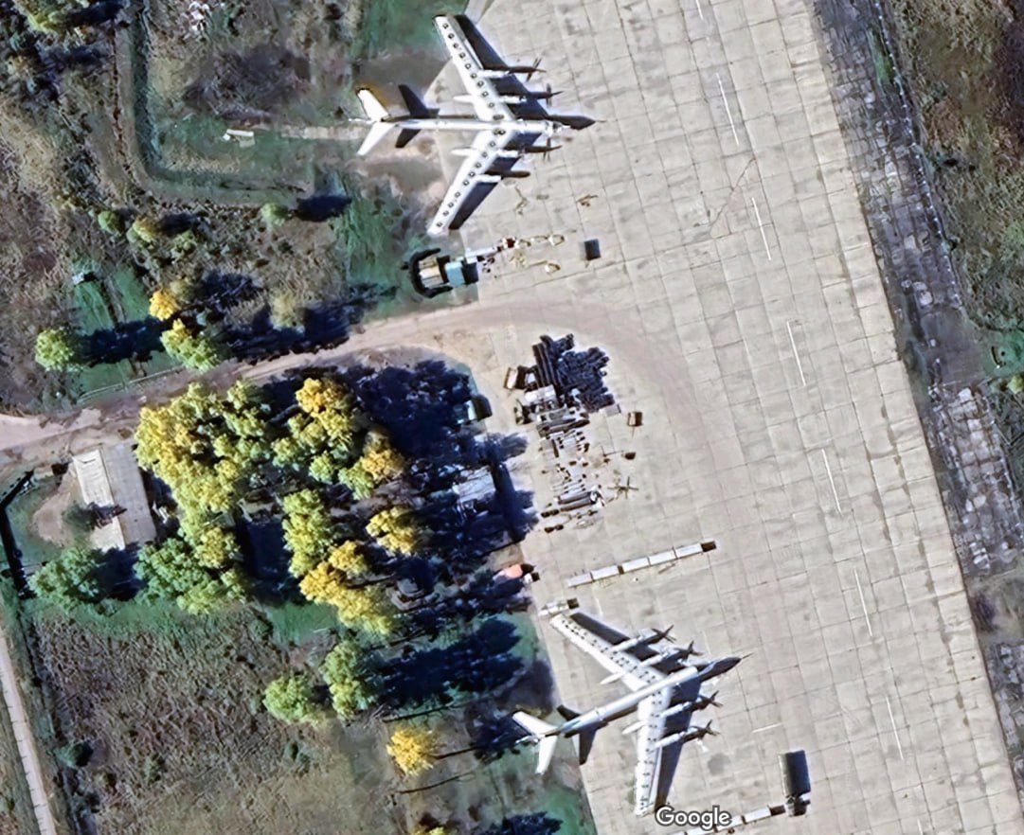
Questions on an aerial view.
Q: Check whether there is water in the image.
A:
No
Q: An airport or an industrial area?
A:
airport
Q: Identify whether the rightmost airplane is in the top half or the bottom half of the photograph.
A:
bottom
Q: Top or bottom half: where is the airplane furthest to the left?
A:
top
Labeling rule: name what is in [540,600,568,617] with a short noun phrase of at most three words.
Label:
vehicle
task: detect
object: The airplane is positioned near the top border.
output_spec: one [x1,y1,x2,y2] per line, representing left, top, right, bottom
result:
[348,17,572,231]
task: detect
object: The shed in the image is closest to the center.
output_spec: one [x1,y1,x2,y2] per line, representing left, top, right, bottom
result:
[453,464,501,515]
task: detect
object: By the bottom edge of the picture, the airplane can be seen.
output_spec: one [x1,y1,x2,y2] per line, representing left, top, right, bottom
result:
[511,611,732,818]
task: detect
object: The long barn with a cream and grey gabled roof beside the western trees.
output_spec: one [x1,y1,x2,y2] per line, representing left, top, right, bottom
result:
[73,443,155,552]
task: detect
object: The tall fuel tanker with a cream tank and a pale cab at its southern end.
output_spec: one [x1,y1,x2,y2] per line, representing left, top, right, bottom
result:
[779,756,796,819]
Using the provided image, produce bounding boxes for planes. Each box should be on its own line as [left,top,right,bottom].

[348,17,572,231]
[511,611,732,818]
